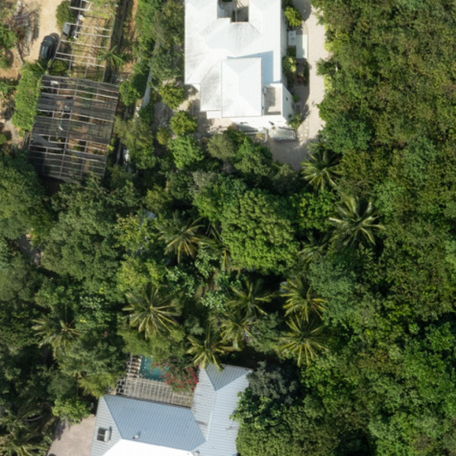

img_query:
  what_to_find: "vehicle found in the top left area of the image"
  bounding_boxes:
[39,33,61,66]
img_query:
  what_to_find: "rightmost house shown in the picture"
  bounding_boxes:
[185,0,302,143]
